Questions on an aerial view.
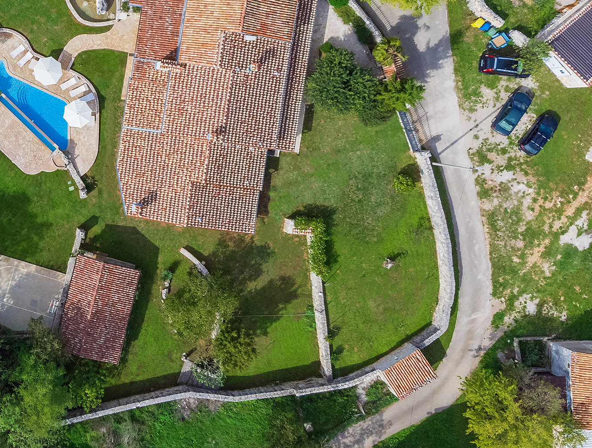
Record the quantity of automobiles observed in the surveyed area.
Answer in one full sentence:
I count 3 automobiles.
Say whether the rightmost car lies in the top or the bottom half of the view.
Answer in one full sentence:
The top half of the photo is where the rightmost car is.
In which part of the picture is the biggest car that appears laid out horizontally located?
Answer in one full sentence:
The biggest car that appears laid out horizontally is located in the top right region of the scene.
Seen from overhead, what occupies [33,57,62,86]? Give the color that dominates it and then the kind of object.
white umbrella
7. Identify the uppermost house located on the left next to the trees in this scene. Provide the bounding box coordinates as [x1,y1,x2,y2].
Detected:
[115,0,320,236]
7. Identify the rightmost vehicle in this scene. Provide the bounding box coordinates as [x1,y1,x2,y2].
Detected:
[517,110,554,158]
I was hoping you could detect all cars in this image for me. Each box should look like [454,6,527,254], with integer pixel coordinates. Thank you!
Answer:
[517,110,554,158]
[475,54,528,78]
[490,88,528,136]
